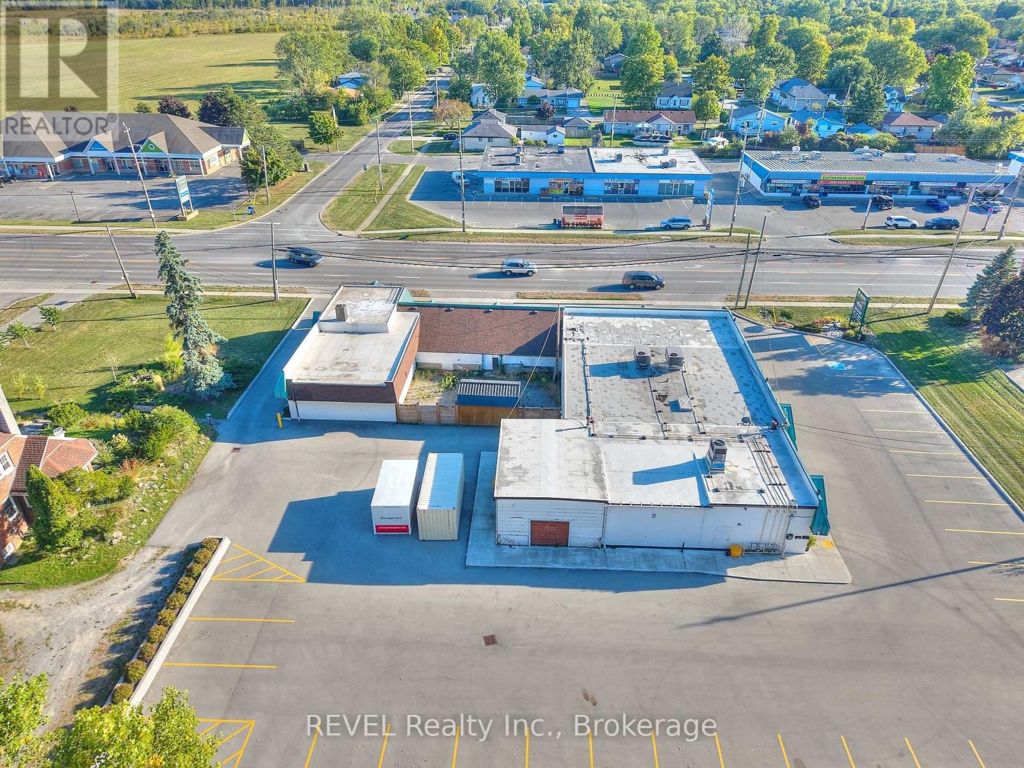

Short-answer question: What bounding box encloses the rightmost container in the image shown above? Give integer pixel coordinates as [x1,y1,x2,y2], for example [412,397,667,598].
[417,451,467,538]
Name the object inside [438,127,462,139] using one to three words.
vehicle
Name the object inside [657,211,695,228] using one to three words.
car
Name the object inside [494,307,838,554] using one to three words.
building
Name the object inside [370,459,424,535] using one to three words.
shipping container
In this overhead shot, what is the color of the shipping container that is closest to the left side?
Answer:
white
